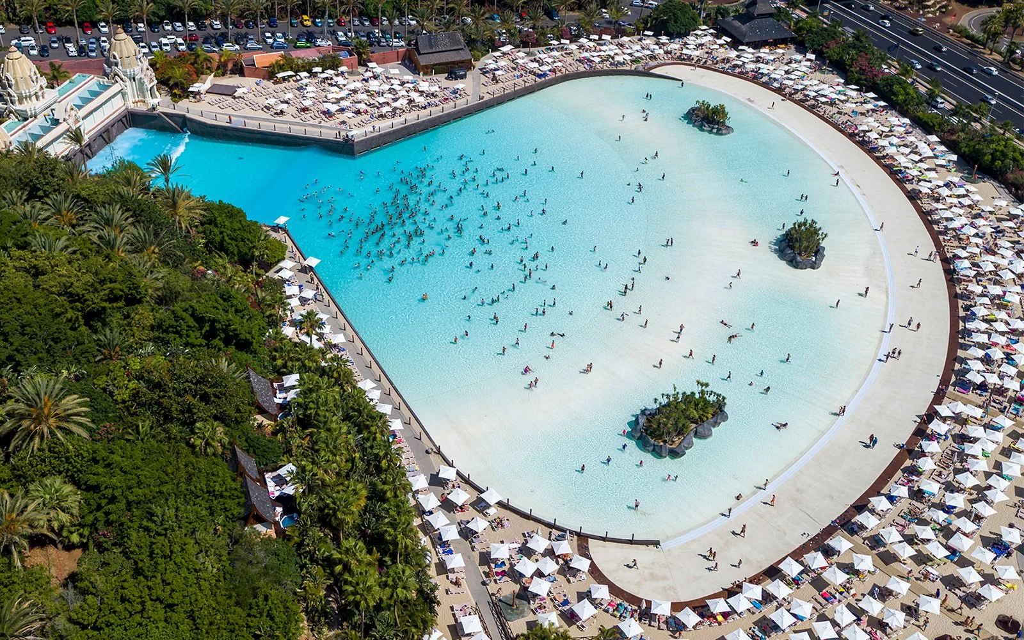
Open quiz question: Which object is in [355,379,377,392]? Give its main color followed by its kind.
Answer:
white umbrella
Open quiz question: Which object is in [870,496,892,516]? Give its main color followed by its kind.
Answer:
white umbrella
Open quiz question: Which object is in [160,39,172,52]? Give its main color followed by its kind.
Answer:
white vehicle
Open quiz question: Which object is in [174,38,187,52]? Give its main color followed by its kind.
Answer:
white vehicle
